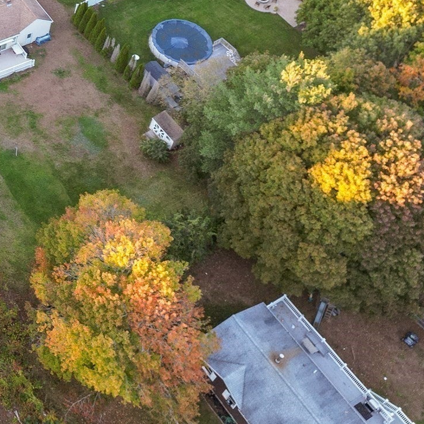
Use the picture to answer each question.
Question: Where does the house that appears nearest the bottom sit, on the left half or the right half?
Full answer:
The house that appears nearest the bottom appears in the right half of the scene.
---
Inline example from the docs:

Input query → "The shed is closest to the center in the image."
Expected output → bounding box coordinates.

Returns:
[149,109,190,150]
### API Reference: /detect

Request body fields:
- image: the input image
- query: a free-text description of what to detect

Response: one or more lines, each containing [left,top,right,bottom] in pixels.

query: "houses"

[213,292,421,424]
[0,0,54,80]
